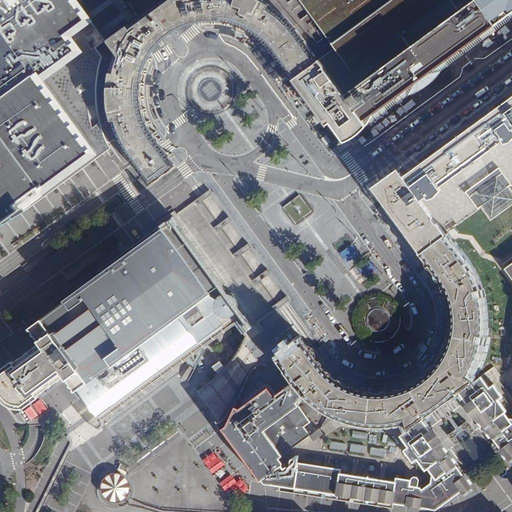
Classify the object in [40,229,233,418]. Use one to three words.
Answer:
building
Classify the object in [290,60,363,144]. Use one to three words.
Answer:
building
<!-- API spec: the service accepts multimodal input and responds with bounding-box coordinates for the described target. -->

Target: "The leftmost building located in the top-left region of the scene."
[0,0,96,225]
